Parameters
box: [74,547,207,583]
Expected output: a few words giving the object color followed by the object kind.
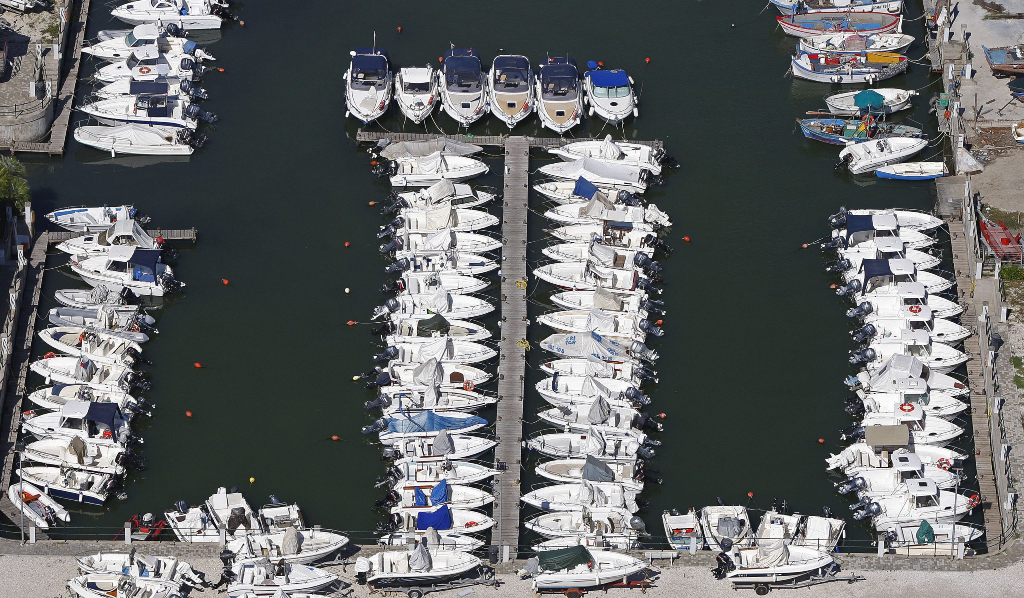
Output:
white boat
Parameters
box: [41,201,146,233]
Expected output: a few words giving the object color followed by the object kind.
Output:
white boat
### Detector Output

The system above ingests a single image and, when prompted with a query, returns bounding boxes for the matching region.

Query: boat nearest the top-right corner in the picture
[981,40,1024,73]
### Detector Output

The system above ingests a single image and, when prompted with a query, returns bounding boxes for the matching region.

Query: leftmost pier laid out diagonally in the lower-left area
[0,491,50,539]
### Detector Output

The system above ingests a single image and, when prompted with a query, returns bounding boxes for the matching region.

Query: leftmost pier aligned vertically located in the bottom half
[0,232,49,491]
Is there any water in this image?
Yes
